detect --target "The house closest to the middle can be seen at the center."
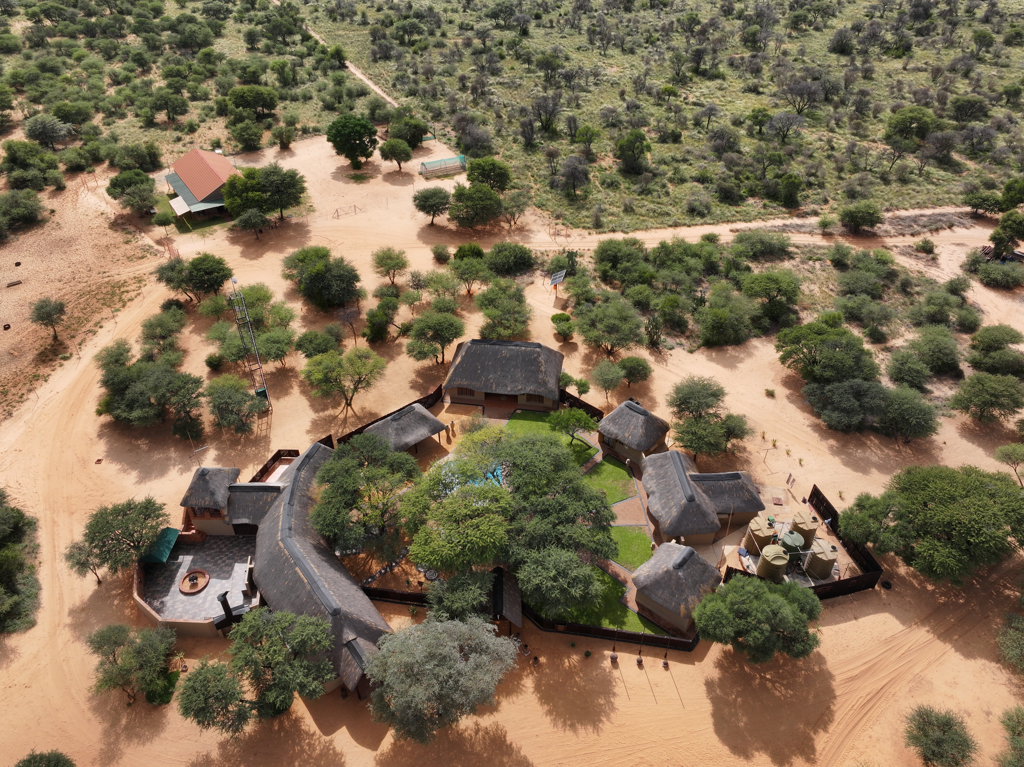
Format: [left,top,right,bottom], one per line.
[442,339,568,410]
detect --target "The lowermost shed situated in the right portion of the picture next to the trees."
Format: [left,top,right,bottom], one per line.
[633,542,724,631]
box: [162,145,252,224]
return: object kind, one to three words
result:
house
